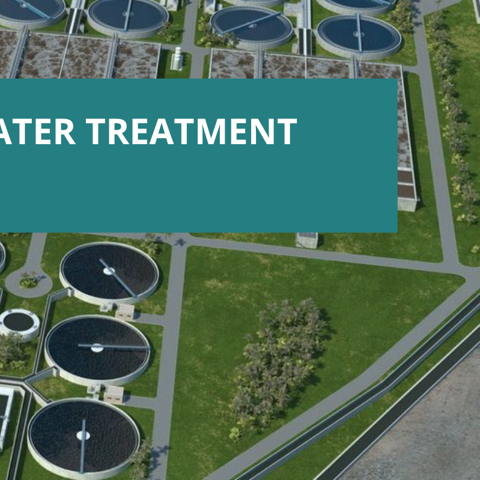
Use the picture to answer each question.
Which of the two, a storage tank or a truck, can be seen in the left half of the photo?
storage tank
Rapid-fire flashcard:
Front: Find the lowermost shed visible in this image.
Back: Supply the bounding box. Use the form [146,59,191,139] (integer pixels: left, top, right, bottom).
[104,384,124,405]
